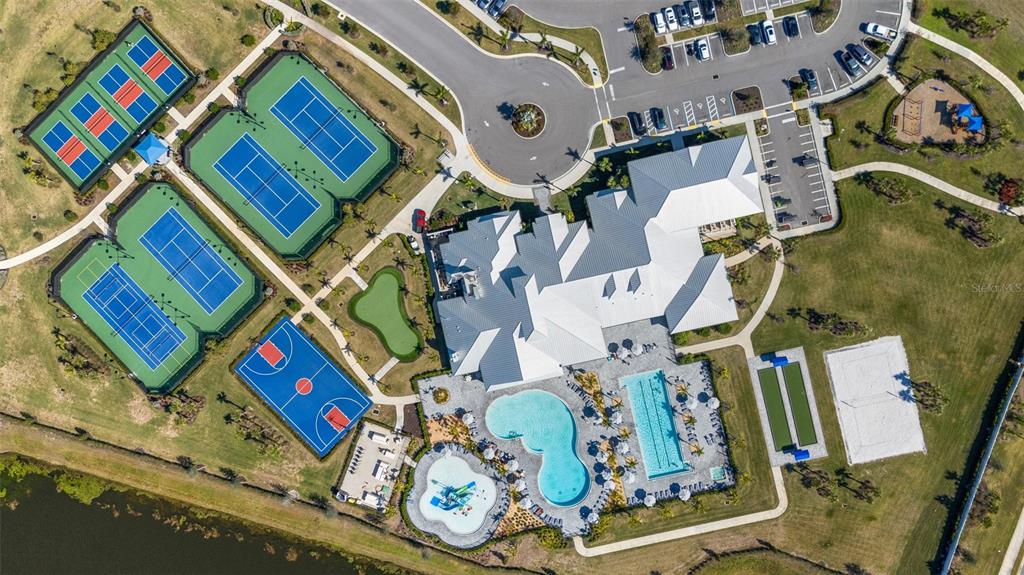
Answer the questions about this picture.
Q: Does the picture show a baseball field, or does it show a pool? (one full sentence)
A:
Looking from above, you can make out a pool.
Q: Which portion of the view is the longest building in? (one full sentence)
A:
Look in the center portion of the view to spot the longest building.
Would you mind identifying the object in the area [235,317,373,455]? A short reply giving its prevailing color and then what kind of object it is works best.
blue basketball court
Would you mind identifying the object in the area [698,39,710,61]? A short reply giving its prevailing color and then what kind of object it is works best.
white vehicle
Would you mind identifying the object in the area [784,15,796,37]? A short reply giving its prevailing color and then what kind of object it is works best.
black vehicle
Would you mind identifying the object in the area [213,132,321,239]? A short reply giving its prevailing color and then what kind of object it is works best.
blue tennis court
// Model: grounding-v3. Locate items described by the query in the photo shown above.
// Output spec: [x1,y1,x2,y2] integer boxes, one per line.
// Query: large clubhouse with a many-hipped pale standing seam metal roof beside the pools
[437,135,763,392]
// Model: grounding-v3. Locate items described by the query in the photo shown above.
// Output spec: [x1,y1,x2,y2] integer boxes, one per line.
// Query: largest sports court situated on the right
[824,336,926,466]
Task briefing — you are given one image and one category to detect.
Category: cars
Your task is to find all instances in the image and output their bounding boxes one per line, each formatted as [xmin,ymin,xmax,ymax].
[678,5,690,27]
[632,112,644,134]
[691,1,703,23]
[763,21,776,43]
[772,196,794,208]
[698,39,710,61]
[475,0,493,13]
[662,48,672,70]
[800,156,822,168]
[488,0,507,20]
[747,24,760,46]
[775,211,797,224]
[654,12,665,34]
[764,173,786,185]
[802,69,817,91]
[853,44,872,65]
[652,107,665,129]
[704,0,716,20]
[665,8,677,30]
[784,15,796,37]
[841,52,863,76]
